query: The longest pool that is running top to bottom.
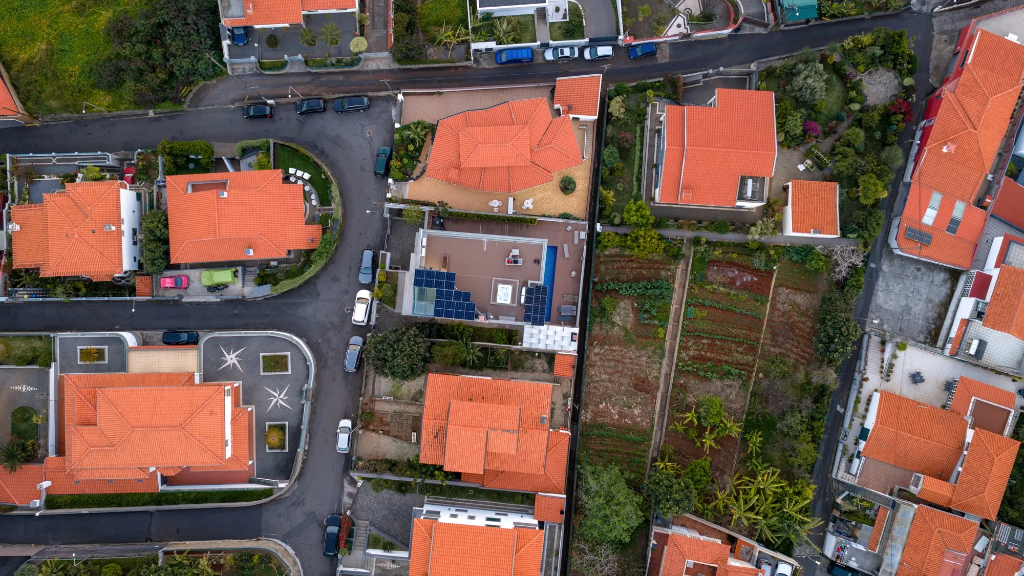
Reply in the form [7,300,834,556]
[545,246,557,322]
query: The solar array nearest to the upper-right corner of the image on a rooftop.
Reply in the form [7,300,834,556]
[905,227,933,246]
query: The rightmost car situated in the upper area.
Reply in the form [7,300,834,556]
[627,43,657,61]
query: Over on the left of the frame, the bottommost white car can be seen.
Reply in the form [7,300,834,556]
[336,418,354,452]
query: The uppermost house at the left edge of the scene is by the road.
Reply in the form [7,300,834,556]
[0,57,42,128]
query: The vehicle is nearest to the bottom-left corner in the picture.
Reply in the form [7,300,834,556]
[161,329,201,345]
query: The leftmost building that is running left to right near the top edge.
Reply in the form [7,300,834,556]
[221,0,359,65]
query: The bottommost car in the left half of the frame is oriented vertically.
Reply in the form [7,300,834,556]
[322,512,343,557]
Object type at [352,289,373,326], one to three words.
car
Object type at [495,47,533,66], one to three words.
vehicle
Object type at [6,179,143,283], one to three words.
house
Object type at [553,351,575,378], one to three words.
shed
